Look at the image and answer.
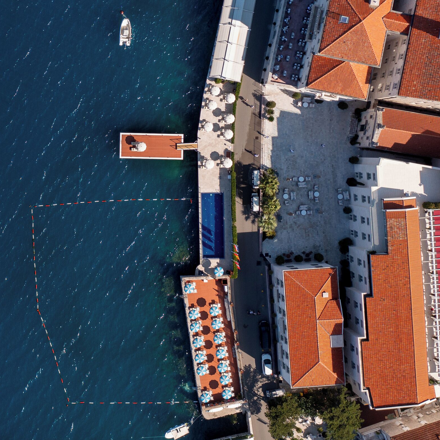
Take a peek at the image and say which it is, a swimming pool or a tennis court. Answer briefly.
swimming pool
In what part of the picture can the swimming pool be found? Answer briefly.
center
